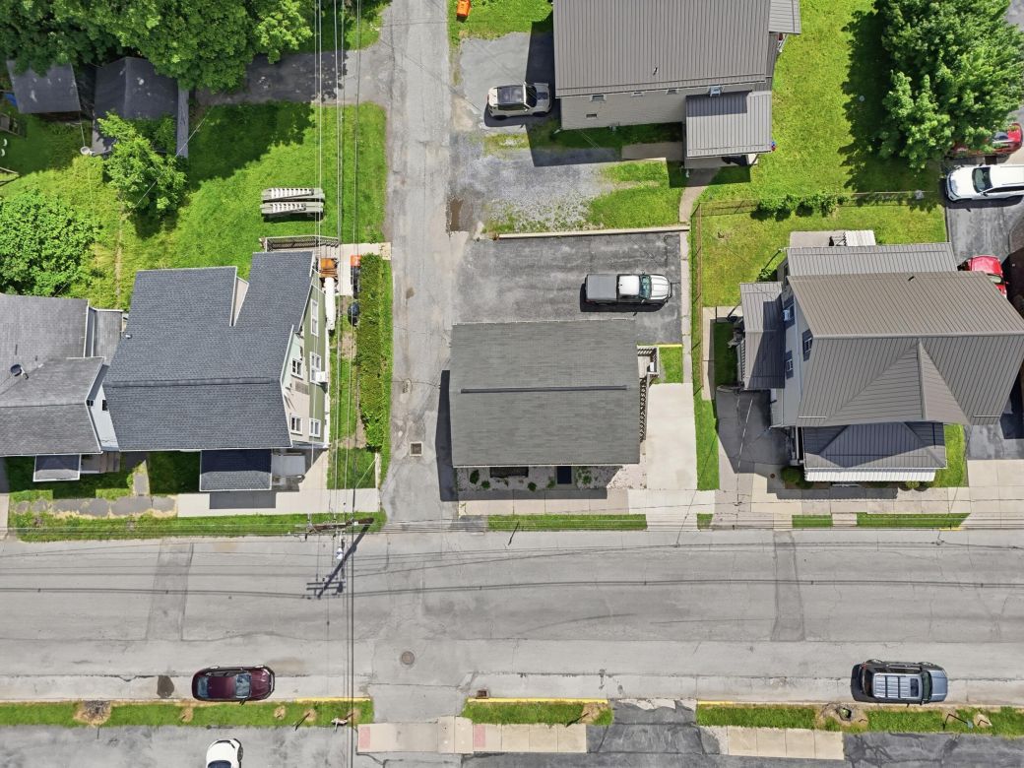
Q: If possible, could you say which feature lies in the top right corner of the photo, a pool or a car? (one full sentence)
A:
Looking in the top right corner of the photo, you will find a car.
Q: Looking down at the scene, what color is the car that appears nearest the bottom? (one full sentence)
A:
From above, the car that appears nearest the bottom appears white.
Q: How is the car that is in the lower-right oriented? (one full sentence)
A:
I'd say the car that is in the lower-right is aligned from side to side in the picture.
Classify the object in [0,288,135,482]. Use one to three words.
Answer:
house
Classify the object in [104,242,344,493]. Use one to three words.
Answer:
building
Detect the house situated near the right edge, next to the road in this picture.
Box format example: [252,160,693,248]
[713,230,1024,488]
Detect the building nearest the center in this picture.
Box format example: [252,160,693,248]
[449,318,658,467]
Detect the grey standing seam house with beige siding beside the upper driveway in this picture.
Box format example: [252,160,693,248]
[544,0,800,178]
